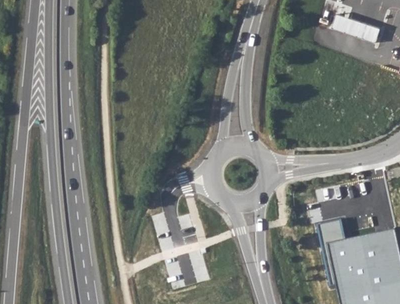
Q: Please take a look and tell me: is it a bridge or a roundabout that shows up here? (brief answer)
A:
roundabout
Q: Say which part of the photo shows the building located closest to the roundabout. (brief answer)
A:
bottom right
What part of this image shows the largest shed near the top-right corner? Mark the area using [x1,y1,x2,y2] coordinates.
[330,16,380,44]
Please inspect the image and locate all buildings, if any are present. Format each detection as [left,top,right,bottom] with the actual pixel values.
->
[330,16,380,44]
[314,214,400,304]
